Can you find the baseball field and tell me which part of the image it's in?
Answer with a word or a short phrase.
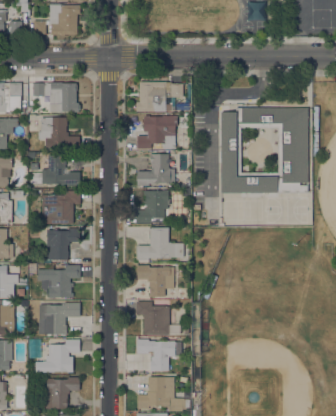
bottom right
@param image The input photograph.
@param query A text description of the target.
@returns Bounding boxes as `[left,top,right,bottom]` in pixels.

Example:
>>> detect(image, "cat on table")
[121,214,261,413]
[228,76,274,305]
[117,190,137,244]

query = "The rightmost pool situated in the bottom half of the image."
[29,338,43,359]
